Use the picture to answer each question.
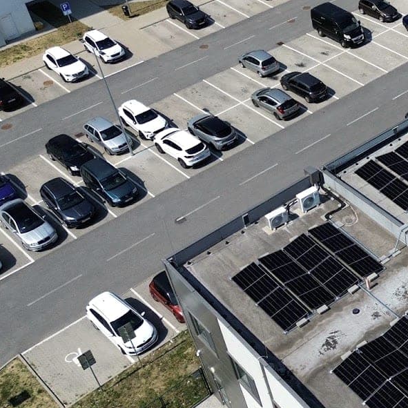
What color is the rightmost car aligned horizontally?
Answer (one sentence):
The rightmost car aligned horizontally looks black in the image.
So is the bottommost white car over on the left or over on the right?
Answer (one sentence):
The bottommost white car is on the left side of the image.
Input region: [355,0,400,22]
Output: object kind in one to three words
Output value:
car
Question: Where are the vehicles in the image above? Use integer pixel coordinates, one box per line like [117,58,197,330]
[146,269,189,328]
[35,173,95,226]
[83,287,161,357]
[80,26,127,62]
[355,0,400,22]
[249,87,302,121]
[0,173,21,207]
[307,0,365,44]
[41,44,90,82]
[78,155,139,205]
[78,112,135,157]
[235,47,284,80]
[165,0,209,28]
[0,79,24,112]
[154,127,212,168]
[185,112,242,151]
[43,128,96,175]
[0,198,58,251]
[280,71,330,104]
[113,96,169,139]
